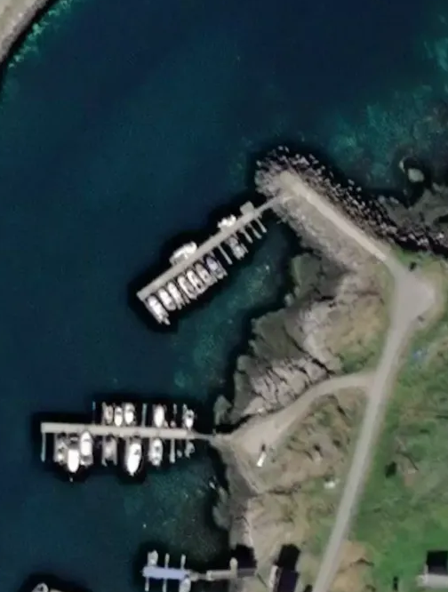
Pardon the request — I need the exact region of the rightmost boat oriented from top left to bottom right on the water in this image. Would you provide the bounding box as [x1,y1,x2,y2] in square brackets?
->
[228,239,246,261]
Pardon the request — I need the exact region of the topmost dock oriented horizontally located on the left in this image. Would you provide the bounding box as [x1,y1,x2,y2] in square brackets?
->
[41,402,221,466]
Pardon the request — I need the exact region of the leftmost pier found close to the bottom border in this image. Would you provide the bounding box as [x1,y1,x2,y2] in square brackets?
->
[143,553,206,592]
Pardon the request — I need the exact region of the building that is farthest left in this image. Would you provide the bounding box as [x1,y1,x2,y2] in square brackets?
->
[238,561,256,578]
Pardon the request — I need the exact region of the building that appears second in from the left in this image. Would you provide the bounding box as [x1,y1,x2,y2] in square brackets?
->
[272,568,299,592]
